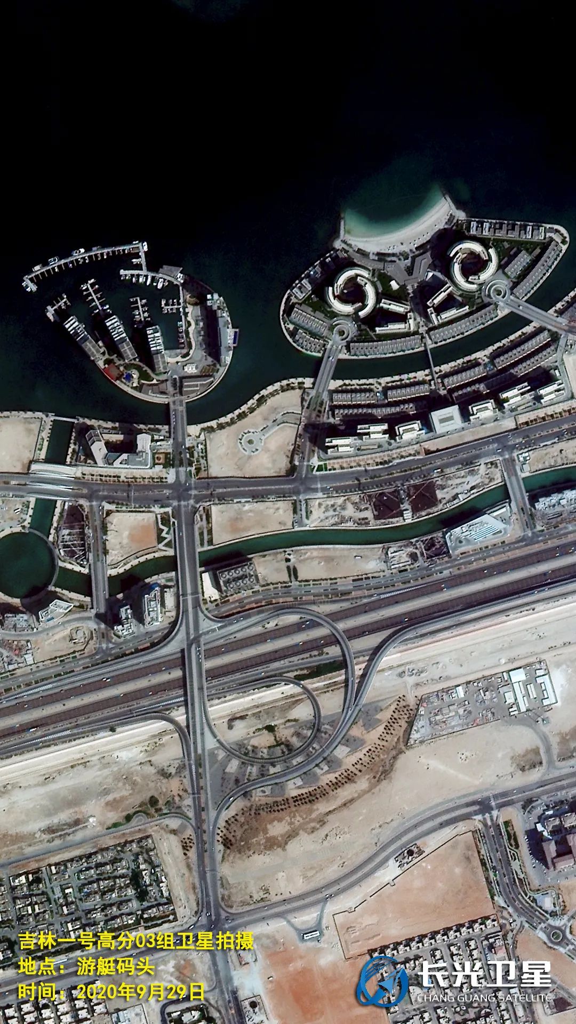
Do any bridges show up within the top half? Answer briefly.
Yes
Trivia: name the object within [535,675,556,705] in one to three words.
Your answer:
shed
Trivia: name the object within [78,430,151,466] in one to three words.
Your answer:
building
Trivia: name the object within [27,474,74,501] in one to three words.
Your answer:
bridge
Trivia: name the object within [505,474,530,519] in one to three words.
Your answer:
bridge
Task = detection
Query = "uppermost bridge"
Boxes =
[501,290,571,335]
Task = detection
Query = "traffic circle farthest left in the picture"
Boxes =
[328,318,357,347]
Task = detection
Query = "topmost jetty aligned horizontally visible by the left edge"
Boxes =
[23,242,148,292]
